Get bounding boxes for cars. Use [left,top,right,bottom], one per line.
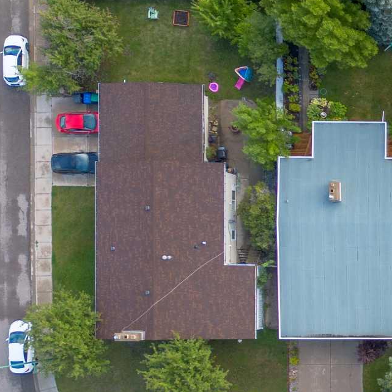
[43,148,98,174]
[0,320,31,375]
[48,108,98,132]
[0,35,27,86]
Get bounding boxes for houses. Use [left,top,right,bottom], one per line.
[276,111,392,340]
[96,81,266,340]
